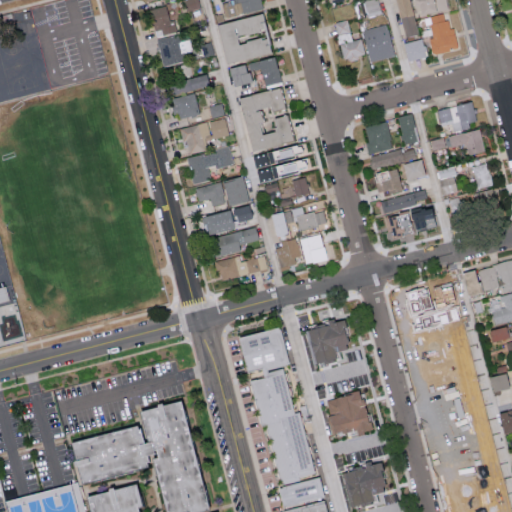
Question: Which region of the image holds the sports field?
left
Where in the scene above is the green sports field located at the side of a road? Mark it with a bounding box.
[0,78,167,340]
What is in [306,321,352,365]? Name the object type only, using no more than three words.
building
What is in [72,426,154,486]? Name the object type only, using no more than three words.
building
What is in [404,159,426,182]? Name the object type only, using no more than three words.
house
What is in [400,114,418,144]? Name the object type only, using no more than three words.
house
